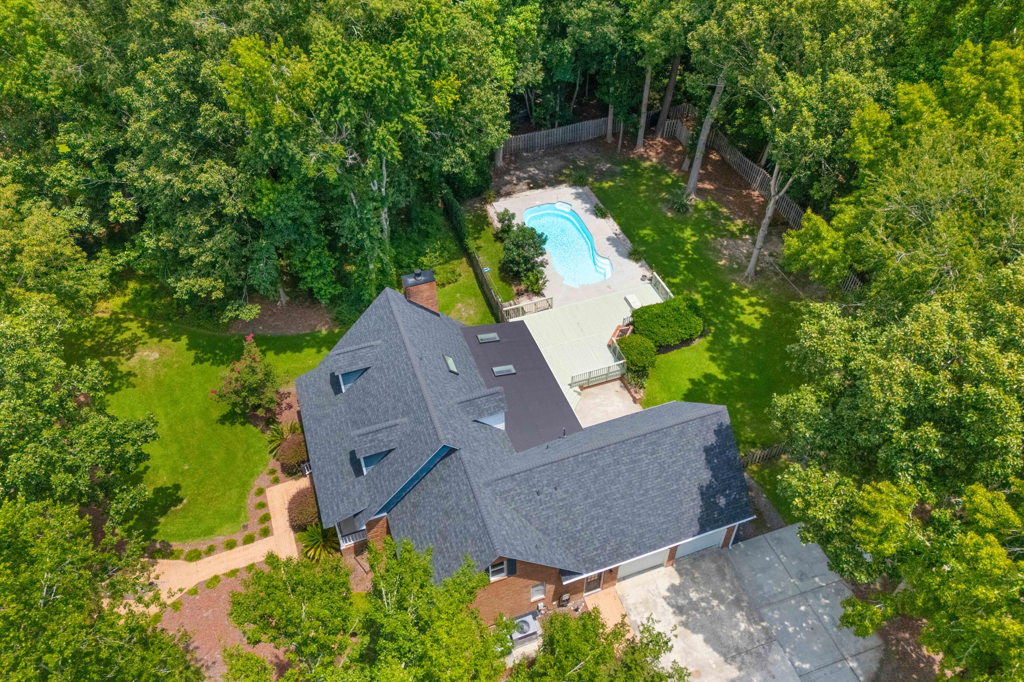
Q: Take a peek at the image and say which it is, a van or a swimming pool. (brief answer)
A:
swimming pool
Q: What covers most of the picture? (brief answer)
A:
trees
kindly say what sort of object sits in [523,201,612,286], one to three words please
swimming pool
